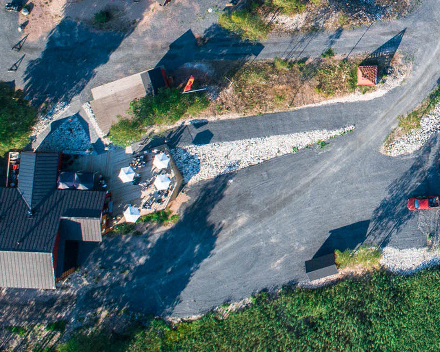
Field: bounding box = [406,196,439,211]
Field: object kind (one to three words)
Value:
vehicle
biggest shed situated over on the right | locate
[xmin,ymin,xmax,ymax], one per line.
[304,252,340,280]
